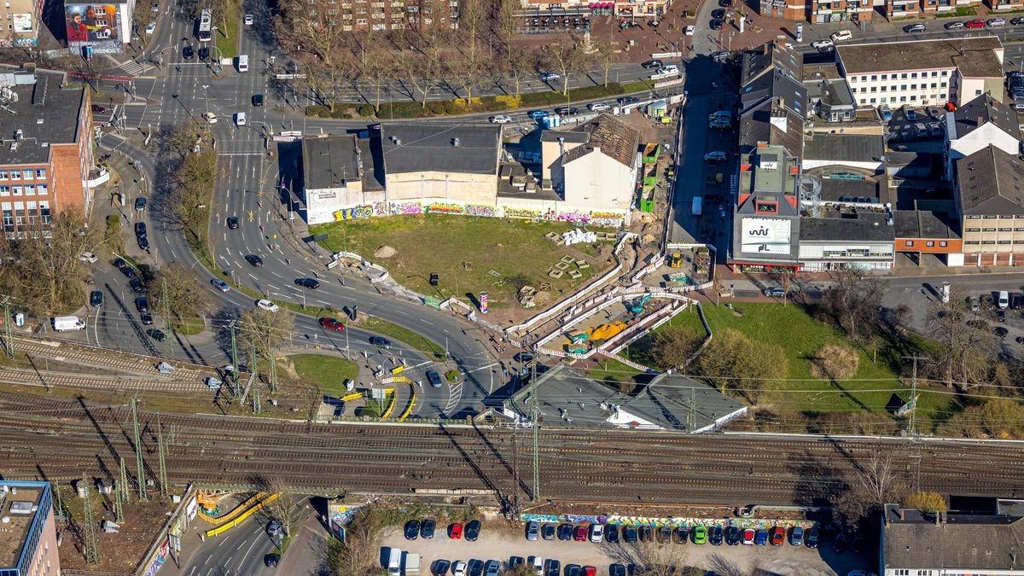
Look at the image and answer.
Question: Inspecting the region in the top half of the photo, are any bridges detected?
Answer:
No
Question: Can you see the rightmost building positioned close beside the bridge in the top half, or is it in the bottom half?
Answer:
bottom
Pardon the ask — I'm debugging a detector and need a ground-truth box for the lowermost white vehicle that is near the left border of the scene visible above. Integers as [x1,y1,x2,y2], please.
[51,316,86,333]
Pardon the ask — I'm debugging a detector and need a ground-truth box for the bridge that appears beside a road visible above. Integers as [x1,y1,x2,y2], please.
[189,410,483,524]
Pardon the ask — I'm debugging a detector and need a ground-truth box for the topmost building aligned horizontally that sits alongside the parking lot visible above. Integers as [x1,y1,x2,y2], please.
[512,363,746,436]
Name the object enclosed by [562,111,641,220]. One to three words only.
house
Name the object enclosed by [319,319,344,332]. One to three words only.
vehicle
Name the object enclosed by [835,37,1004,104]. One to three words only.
building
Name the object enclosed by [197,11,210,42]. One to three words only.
vehicle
